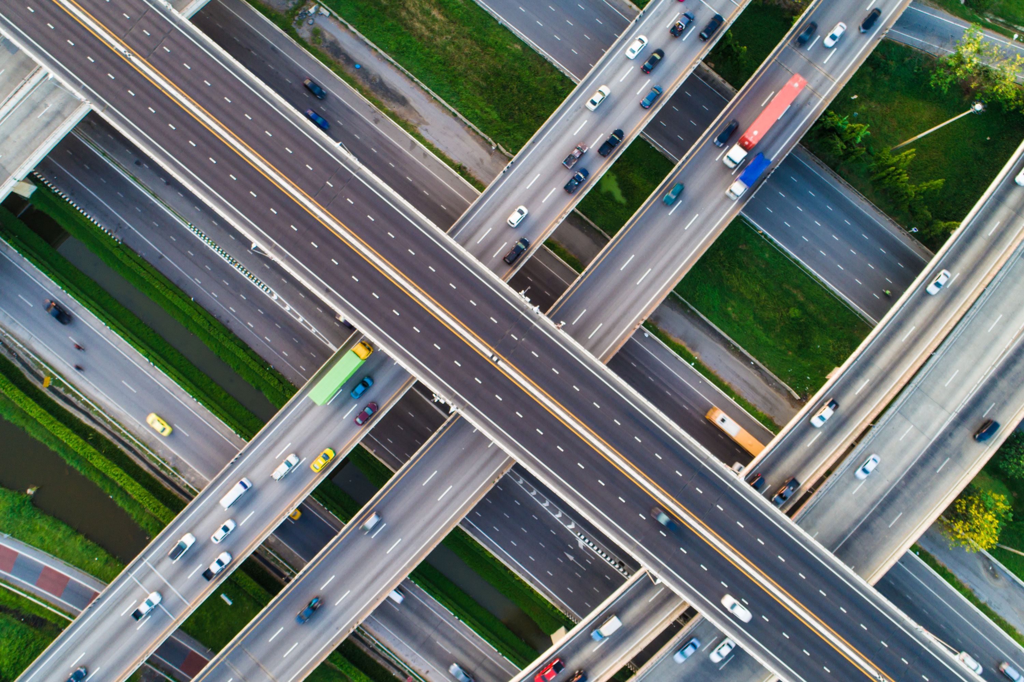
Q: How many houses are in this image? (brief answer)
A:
0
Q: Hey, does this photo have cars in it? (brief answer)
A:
Yes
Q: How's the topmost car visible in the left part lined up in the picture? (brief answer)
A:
diagonally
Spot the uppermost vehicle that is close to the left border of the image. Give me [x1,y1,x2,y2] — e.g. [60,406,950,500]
[42,299,74,326]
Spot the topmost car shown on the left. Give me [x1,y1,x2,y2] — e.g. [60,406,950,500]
[299,75,329,102]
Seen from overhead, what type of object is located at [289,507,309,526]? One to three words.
car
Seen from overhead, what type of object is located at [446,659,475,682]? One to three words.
car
